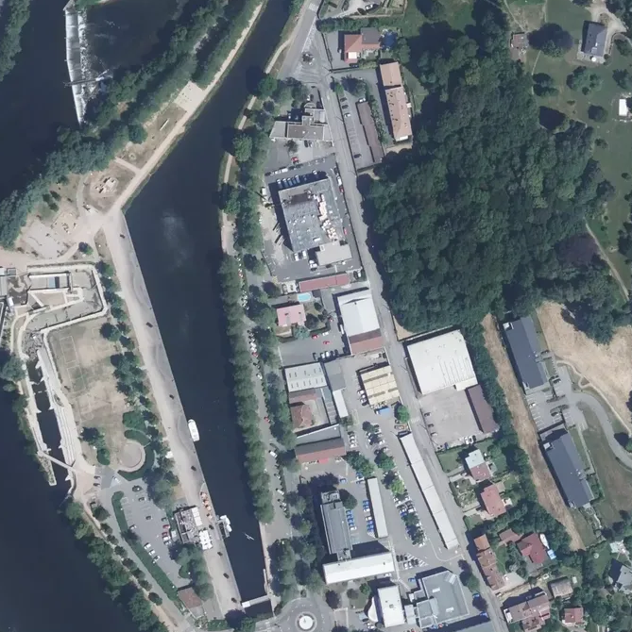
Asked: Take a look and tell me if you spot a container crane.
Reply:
No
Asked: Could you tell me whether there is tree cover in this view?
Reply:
Yes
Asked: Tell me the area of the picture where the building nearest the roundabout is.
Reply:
bottom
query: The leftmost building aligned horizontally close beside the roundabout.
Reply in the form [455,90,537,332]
[324,553,395,587]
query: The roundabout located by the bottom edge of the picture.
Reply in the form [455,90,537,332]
[282,599,331,632]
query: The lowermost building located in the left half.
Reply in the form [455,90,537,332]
[178,588,211,623]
